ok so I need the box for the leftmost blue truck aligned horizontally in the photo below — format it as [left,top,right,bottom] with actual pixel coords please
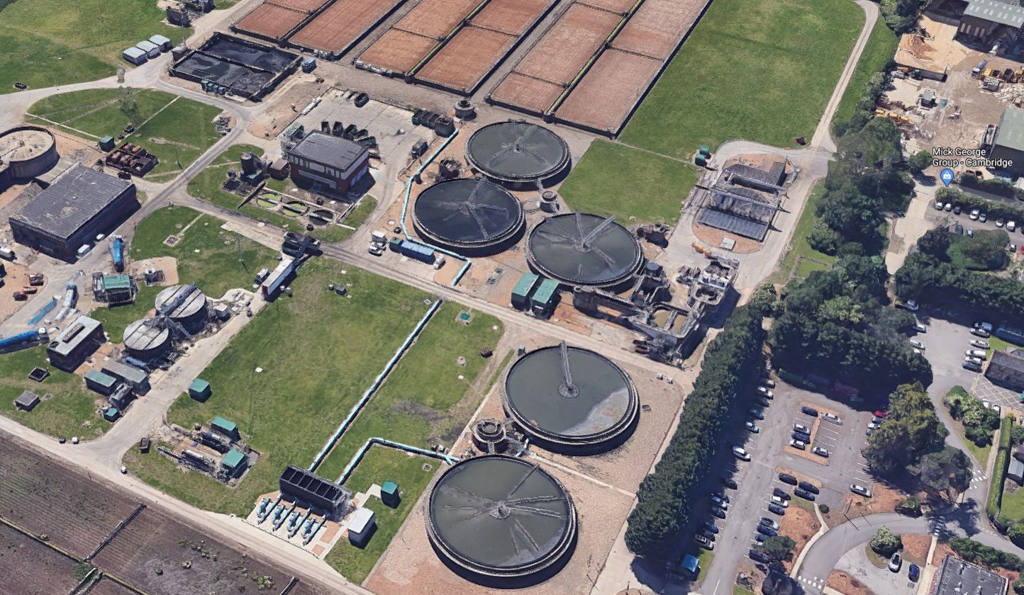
[0,326,42,348]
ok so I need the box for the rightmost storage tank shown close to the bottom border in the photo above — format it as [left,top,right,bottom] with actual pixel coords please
[423,452,578,586]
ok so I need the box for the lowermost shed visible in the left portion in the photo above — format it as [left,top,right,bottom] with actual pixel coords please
[348,507,376,543]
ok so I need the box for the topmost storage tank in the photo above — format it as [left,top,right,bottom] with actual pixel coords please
[170,37,305,100]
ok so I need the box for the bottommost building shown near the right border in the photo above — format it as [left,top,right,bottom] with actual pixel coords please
[927,552,996,595]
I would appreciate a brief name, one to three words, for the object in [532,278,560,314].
shed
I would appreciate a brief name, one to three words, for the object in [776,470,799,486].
car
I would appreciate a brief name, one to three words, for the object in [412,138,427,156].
vehicle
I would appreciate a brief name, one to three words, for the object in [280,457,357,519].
storage tank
